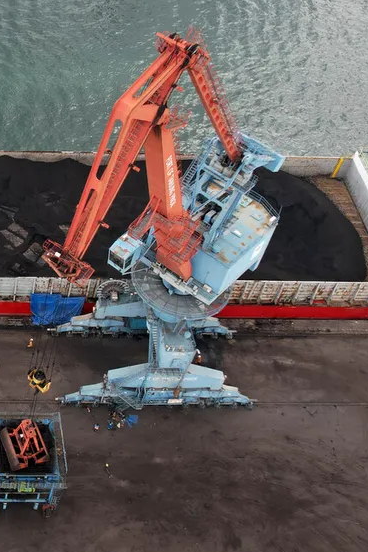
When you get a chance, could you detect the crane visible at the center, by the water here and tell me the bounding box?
[26,28,295,421]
